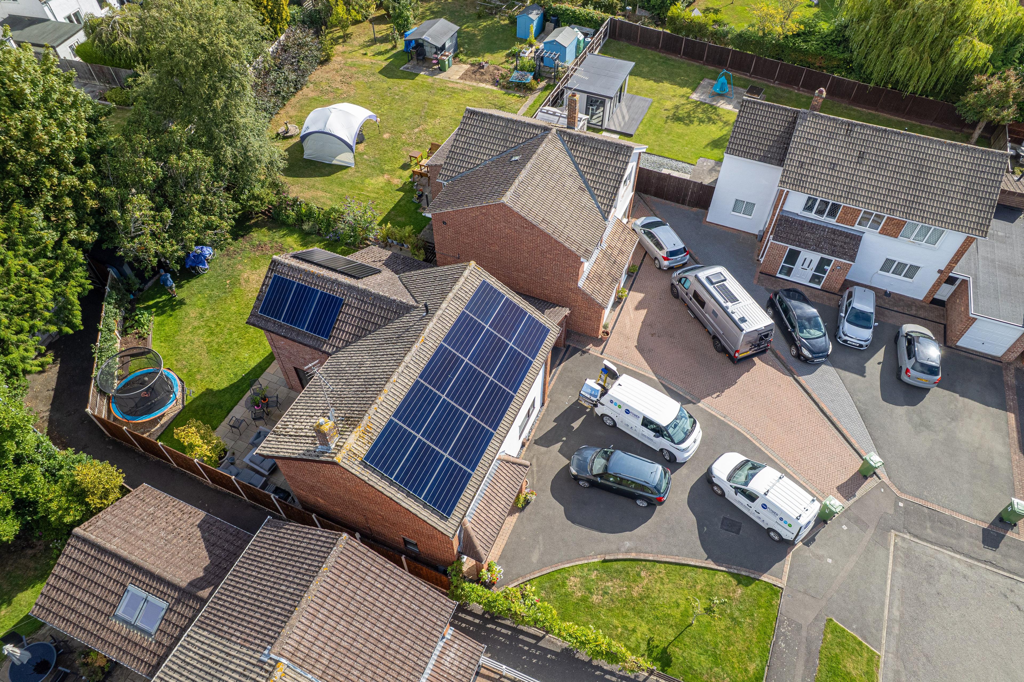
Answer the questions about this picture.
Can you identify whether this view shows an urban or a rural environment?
urban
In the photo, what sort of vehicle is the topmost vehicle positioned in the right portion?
automobile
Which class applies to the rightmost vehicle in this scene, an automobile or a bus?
automobile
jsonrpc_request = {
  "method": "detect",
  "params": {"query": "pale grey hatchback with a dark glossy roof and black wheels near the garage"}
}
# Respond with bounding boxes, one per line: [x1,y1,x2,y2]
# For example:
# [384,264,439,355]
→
[896,324,945,395]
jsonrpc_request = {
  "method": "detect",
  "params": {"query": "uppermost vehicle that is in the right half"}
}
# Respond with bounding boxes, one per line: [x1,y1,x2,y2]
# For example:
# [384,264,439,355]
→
[636,215,693,272]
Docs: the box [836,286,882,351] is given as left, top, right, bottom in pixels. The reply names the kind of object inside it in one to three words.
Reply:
car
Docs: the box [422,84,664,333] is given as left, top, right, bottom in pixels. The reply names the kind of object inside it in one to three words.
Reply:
house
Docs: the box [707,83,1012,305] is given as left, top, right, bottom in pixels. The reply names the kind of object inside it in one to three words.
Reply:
house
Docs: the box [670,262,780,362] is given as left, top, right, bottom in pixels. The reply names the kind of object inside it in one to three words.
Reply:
van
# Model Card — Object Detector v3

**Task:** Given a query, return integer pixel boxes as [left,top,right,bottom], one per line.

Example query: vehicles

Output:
[768,289,837,366]
[581,356,707,465]
[896,324,945,395]
[836,286,882,351]
[568,443,671,507]
[636,215,693,272]
[670,262,780,362]
[707,453,827,550]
